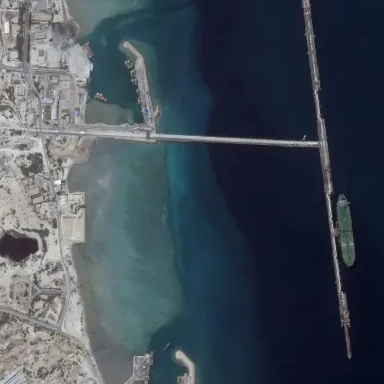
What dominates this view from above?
water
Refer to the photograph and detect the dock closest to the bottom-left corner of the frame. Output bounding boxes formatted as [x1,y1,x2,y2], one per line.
[123,355,152,384]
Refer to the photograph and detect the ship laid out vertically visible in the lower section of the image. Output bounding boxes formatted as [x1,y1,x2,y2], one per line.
[334,194,354,270]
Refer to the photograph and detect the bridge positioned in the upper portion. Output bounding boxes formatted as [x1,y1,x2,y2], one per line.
[43,129,320,147]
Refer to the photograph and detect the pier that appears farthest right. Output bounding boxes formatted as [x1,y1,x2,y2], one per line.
[302,0,351,360]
